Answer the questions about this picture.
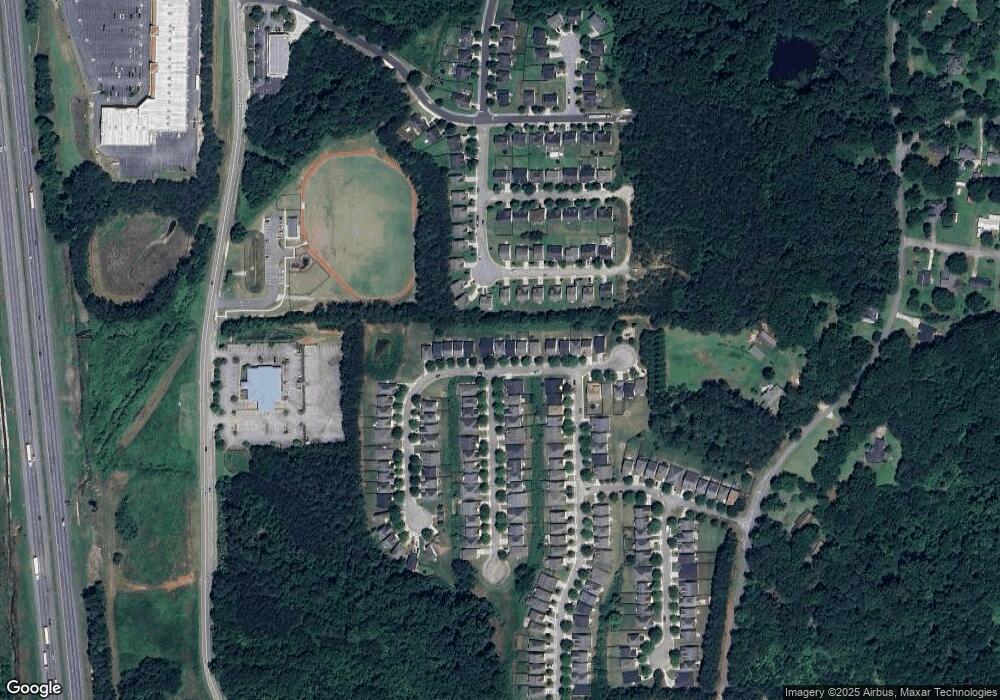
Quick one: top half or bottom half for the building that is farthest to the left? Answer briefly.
top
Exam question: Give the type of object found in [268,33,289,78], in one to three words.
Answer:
building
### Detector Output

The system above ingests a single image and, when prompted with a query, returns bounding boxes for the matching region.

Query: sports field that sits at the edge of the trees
[300,149,416,302]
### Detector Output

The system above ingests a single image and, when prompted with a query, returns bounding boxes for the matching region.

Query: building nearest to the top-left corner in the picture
[100,0,189,145]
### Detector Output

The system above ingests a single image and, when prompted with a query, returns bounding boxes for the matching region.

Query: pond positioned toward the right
[769,36,816,82]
